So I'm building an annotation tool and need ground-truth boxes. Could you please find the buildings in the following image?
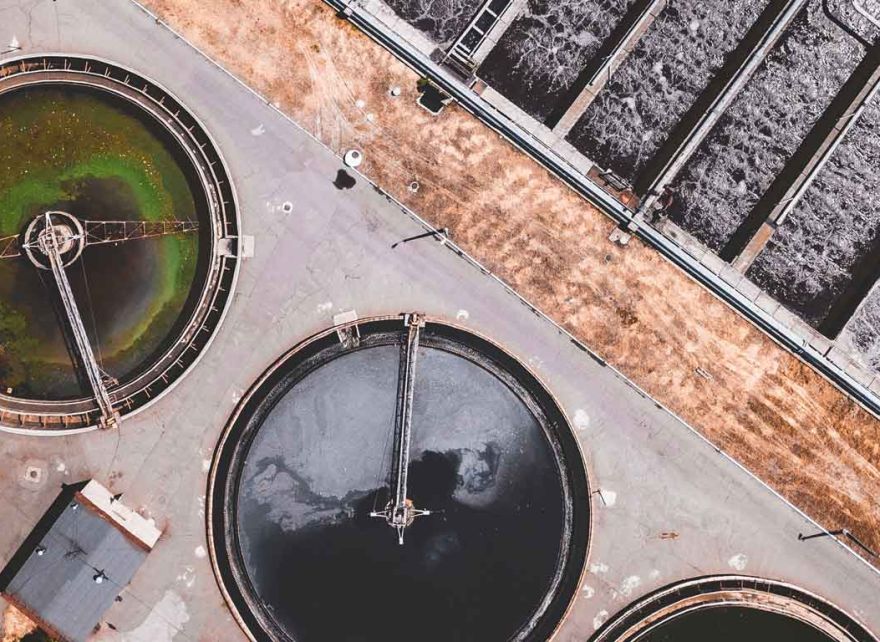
[0,480,162,642]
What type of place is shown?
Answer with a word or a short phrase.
industrial area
